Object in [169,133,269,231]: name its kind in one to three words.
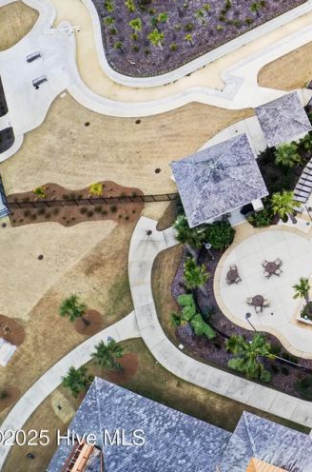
building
